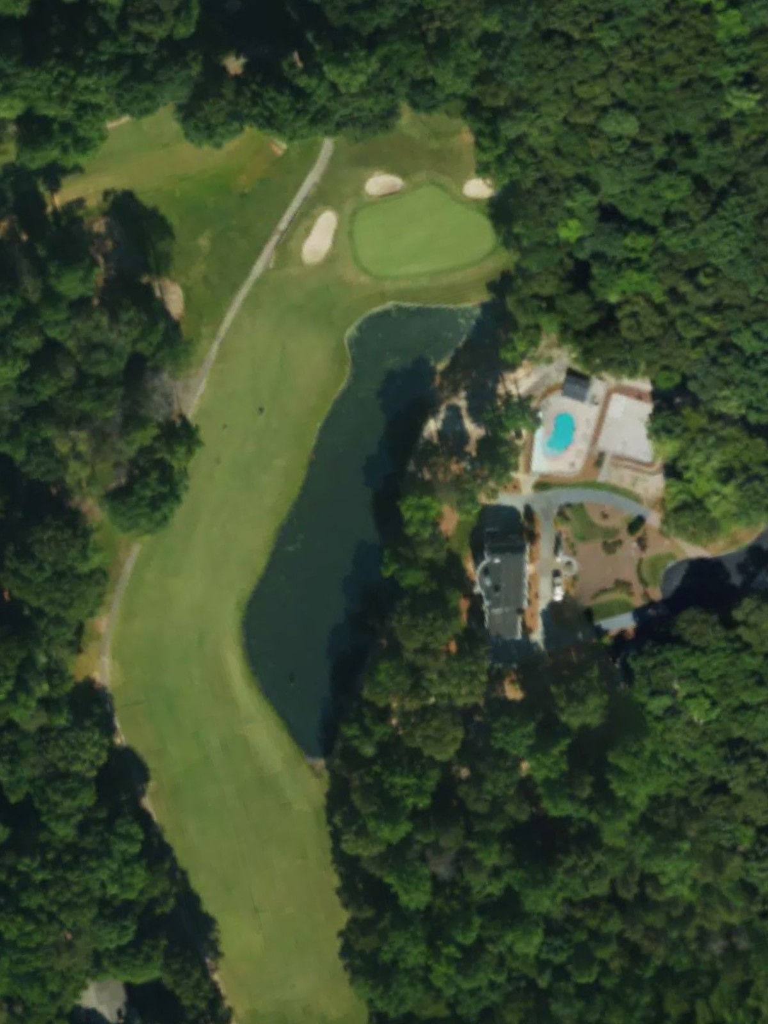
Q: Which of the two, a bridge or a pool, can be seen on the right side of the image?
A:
pool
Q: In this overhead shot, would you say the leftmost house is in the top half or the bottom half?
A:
bottom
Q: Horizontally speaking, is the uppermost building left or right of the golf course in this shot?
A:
on its right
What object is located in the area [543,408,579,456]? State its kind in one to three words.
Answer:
swimming pool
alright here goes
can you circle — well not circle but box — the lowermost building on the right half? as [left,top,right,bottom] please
[474,526,535,639]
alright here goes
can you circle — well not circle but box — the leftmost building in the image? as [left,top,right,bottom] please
[81,981,125,1024]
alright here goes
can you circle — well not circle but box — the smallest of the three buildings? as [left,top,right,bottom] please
[562,369,589,401]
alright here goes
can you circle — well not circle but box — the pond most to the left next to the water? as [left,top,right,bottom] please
[244,305,482,759]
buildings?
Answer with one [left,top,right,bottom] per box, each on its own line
[81,981,125,1024]
[562,369,589,401]
[474,526,535,639]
